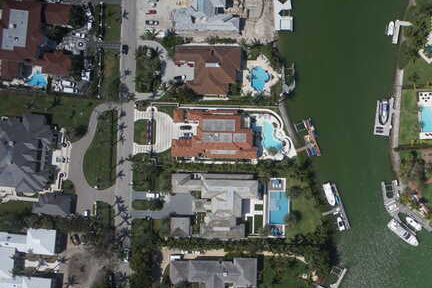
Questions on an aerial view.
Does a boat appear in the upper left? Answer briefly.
No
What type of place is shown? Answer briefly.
residential area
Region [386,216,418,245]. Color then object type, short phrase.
white boat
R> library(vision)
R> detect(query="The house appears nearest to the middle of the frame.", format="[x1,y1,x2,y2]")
[172,109,257,163]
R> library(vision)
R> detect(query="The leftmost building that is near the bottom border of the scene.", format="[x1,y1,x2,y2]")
[0,230,61,288]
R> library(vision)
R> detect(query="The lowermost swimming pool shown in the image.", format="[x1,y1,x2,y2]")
[265,178,289,238]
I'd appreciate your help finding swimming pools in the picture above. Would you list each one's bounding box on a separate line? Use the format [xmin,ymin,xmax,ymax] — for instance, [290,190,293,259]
[265,178,289,238]
[24,77,50,88]
[421,105,432,133]
[257,117,292,155]
[249,65,272,92]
